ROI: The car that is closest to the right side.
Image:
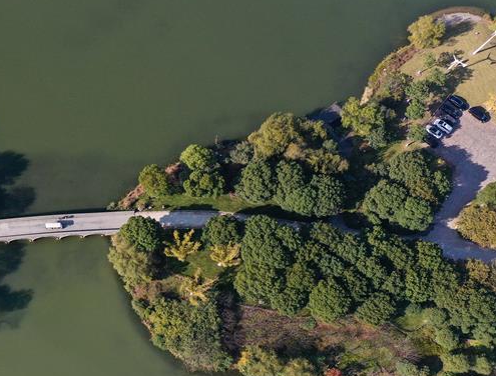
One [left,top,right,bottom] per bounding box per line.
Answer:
[467,106,489,124]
